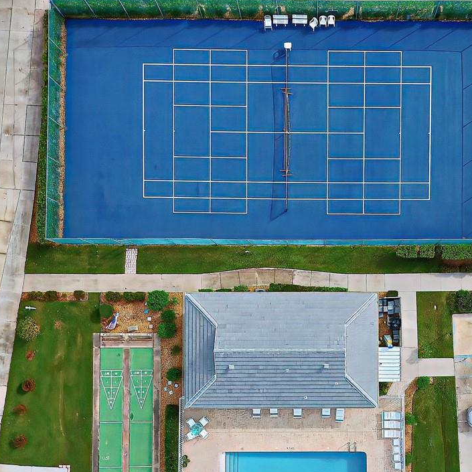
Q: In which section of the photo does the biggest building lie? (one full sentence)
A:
The biggest building appears toward the bottom of the photo.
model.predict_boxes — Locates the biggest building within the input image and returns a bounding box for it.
[182,291,380,410]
